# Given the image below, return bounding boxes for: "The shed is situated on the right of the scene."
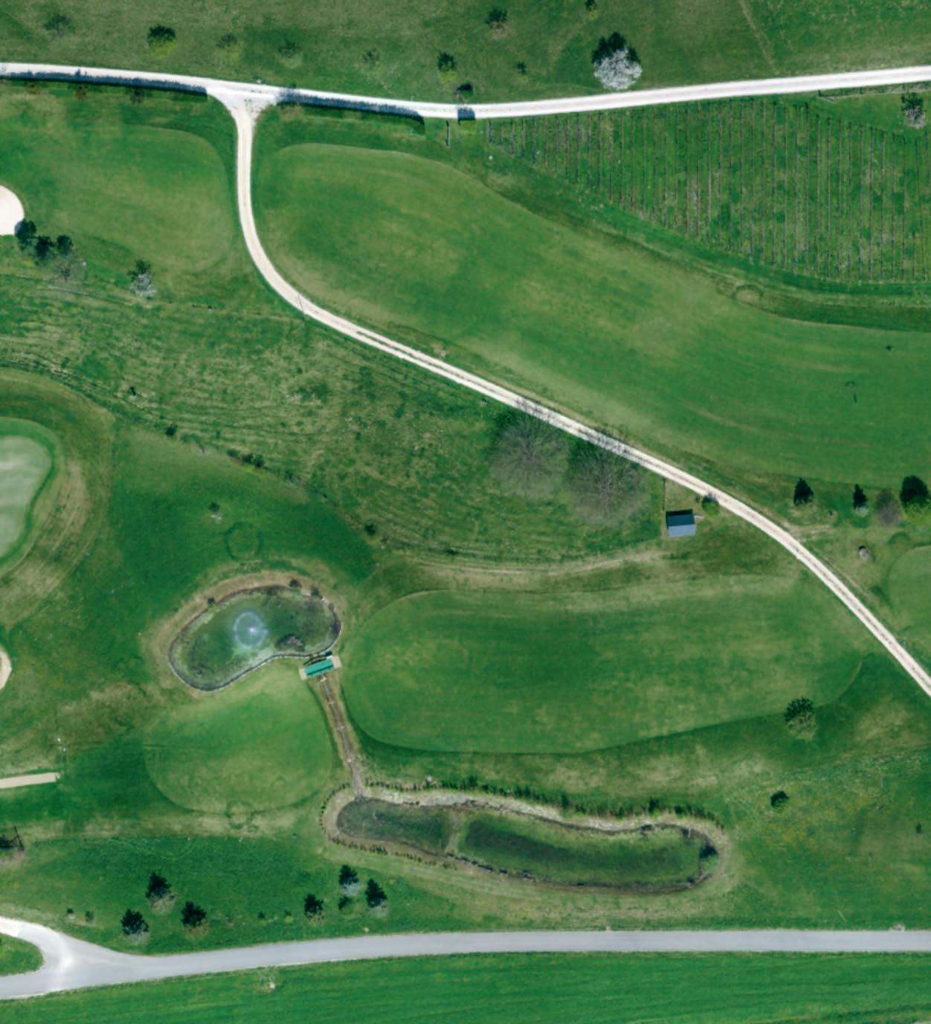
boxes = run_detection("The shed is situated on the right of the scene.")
[668,515,696,537]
